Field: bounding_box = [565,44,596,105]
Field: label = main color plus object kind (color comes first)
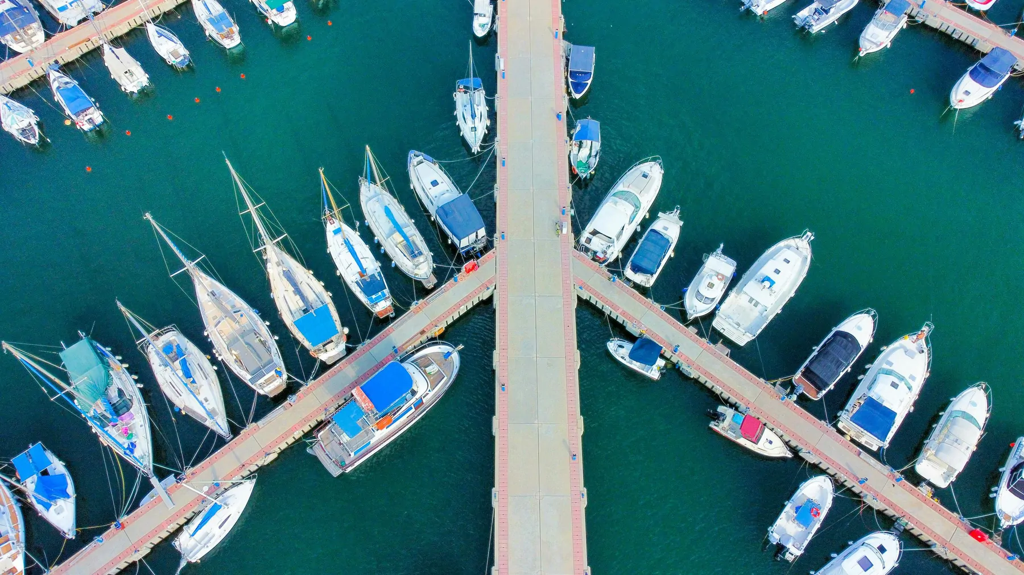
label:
blue boat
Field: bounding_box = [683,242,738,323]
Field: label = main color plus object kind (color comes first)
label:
white boat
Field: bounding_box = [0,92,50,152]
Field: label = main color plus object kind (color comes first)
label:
white boat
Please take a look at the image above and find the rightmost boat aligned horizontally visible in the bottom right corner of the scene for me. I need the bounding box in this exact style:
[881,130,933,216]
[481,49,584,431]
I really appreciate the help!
[810,535,908,575]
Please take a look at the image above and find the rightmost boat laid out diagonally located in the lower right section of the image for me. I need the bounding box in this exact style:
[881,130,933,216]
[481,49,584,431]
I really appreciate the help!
[911,378,995,491]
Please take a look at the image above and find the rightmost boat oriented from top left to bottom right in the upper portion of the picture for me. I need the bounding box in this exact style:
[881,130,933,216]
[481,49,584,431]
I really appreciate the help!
[408,144,490,259]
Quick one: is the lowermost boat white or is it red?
white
